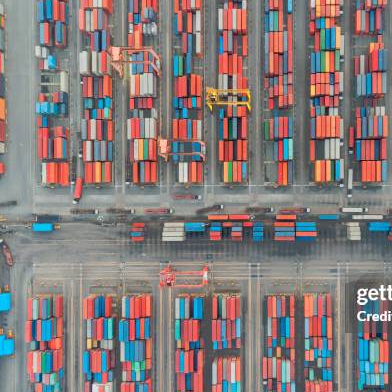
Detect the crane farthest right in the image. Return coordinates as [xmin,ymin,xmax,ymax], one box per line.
[204,88,250,114]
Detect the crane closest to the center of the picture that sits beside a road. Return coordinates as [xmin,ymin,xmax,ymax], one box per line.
[155,139,207,161]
